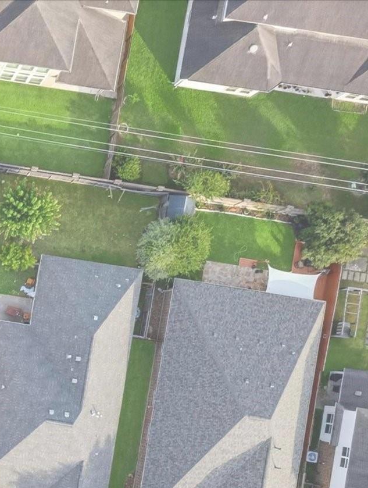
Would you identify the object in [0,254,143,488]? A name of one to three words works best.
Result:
house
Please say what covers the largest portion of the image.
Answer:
buildings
